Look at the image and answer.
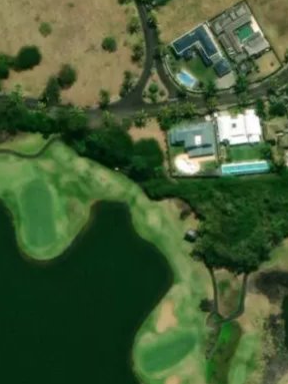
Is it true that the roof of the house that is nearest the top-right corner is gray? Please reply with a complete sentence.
Yes, the roof of the house that is nearest the top-right corner appears gray.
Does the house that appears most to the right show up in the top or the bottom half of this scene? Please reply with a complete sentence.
The house that appears most to the right is in the top half of the image.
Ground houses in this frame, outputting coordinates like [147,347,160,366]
[172,122,215,157]
[264,116,288,149]
[210,3,272,61]
[218,109,262,145]
[172,24,232,78]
